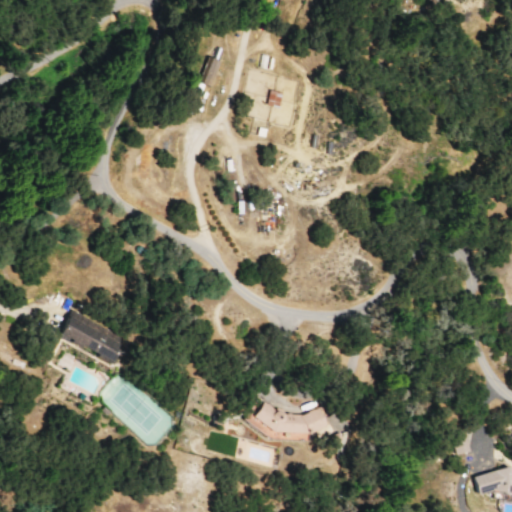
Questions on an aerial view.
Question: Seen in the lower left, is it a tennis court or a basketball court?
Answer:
tennis court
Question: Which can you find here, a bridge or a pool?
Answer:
pool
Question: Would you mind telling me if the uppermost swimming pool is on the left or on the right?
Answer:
left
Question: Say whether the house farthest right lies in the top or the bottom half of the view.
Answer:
bottom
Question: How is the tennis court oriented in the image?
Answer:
on a diagonal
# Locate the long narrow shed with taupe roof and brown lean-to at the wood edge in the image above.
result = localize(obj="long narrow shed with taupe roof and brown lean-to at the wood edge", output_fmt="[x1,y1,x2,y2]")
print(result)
[202,58,220,86]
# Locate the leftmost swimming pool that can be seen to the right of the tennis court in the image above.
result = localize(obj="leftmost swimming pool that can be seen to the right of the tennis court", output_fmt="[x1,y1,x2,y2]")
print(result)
[235,438,274,464]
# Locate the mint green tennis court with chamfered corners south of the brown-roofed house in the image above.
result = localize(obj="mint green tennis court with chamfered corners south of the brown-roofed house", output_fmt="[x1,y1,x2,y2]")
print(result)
[100,378,173,446]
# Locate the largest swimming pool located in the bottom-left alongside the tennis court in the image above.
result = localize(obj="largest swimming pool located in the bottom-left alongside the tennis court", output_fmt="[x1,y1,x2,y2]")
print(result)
[58,354,109,396]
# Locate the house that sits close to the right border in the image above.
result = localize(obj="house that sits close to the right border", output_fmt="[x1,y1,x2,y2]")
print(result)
[473,466,512,495]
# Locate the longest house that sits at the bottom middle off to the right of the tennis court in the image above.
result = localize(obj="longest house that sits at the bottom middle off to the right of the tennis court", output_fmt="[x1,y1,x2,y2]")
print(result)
[250,404,334,441]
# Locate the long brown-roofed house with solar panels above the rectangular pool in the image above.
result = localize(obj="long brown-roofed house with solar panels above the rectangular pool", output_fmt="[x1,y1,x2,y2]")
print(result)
[62,311,121,362]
